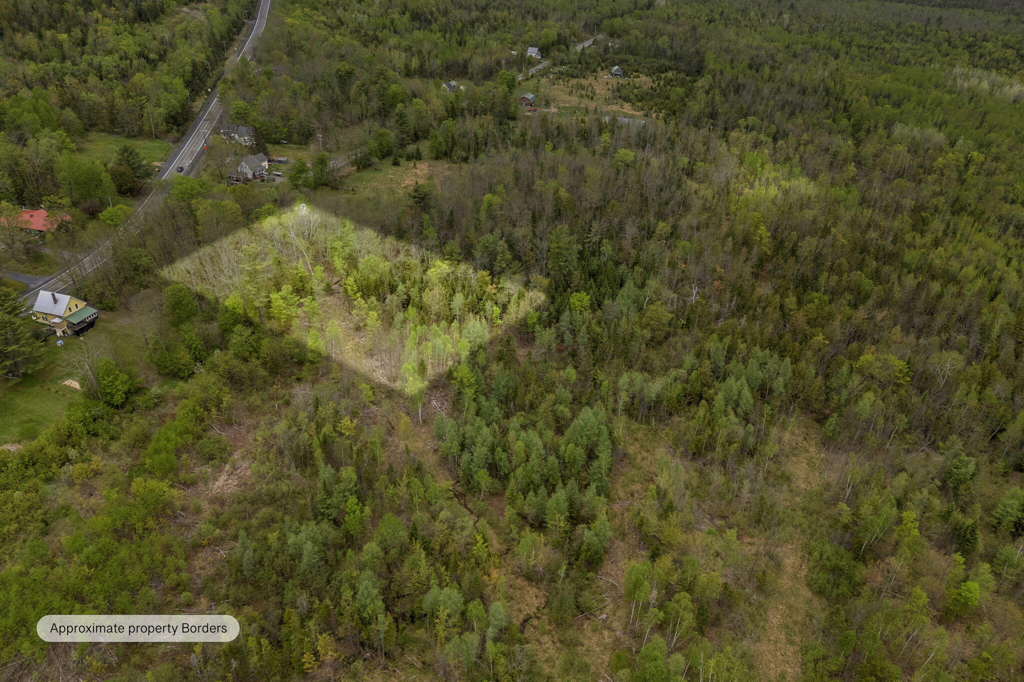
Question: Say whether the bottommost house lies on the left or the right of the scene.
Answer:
left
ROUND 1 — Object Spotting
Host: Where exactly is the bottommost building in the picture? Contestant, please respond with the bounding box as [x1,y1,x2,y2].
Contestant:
[32,288,103,336]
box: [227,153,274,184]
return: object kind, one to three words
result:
house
